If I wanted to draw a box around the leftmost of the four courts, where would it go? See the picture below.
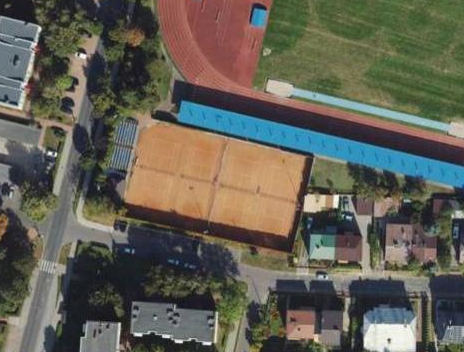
[124,122,188,224]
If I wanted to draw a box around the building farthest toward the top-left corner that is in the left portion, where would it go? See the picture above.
[0,15,43,108]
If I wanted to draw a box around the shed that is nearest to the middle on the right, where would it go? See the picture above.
[304,195,340,212]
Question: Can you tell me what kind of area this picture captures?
sports ground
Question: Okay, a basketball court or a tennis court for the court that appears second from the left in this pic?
tennis court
